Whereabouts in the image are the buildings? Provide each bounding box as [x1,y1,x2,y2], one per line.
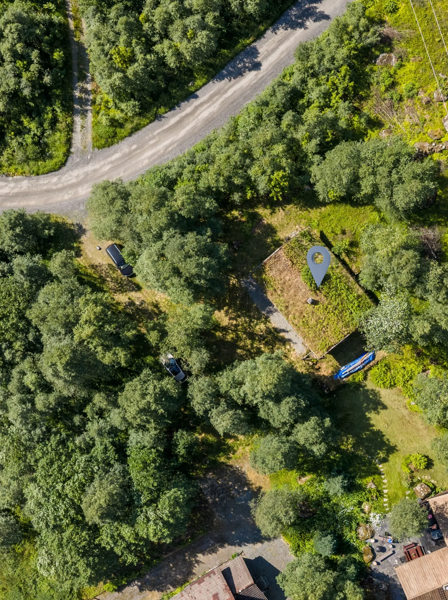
[171,553,268,600]
[250,226,367,360]
[395,493,448,600]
